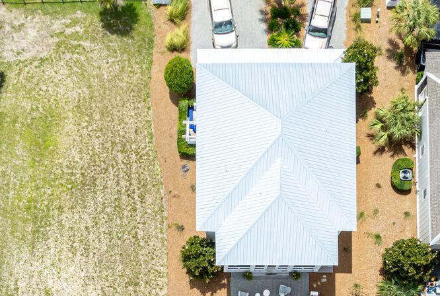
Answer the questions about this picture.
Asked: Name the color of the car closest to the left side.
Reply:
white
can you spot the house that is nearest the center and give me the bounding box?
[178,49,358,286]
